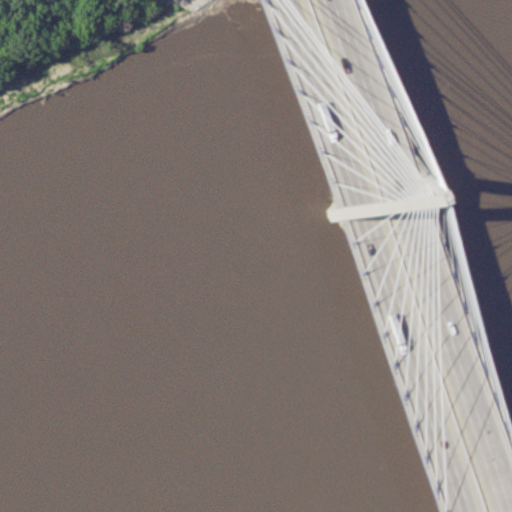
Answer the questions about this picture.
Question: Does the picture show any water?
Yes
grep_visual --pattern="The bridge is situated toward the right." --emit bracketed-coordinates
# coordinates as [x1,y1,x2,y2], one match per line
[262,0,512,512]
